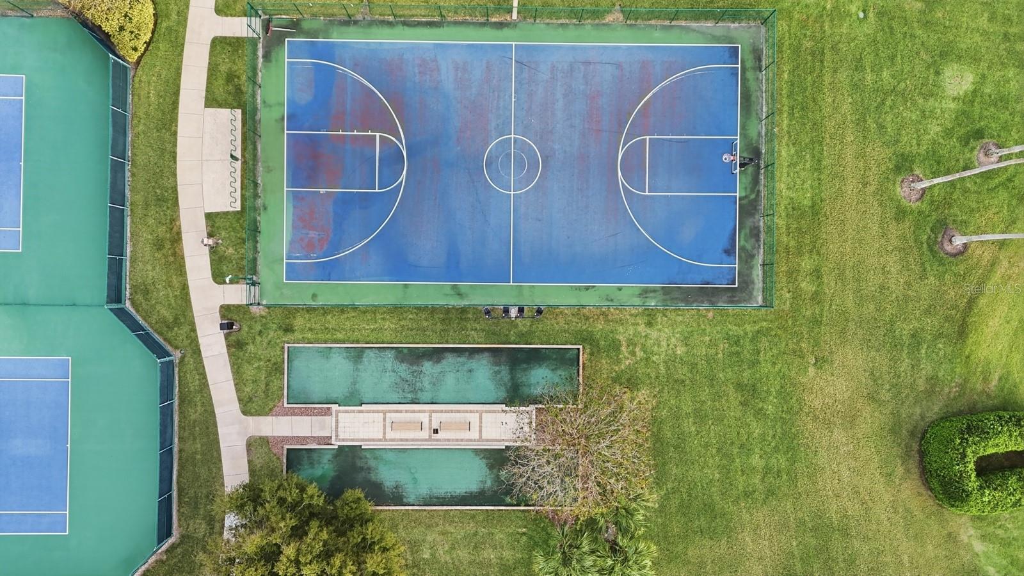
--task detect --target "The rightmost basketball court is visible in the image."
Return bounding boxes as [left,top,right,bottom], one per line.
[255,16,766,309]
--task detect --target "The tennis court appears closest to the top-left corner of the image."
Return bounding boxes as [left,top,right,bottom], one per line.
[0,18,129,304]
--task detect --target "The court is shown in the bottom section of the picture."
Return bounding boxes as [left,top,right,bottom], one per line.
[0,305,173,576]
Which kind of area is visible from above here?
sports ground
